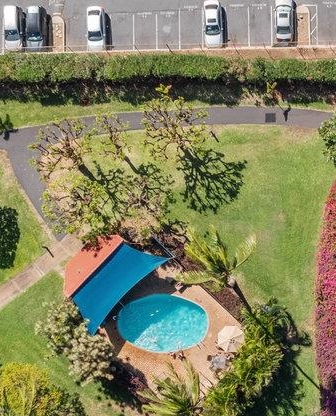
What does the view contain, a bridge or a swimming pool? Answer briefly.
swimming pool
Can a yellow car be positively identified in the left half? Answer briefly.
No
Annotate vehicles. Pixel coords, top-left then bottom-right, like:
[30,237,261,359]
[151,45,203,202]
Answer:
[202,0,225,50]
[85,4,108,55]
[1,3,27,57]
[273,0,296,44]
[23,5,49,56]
